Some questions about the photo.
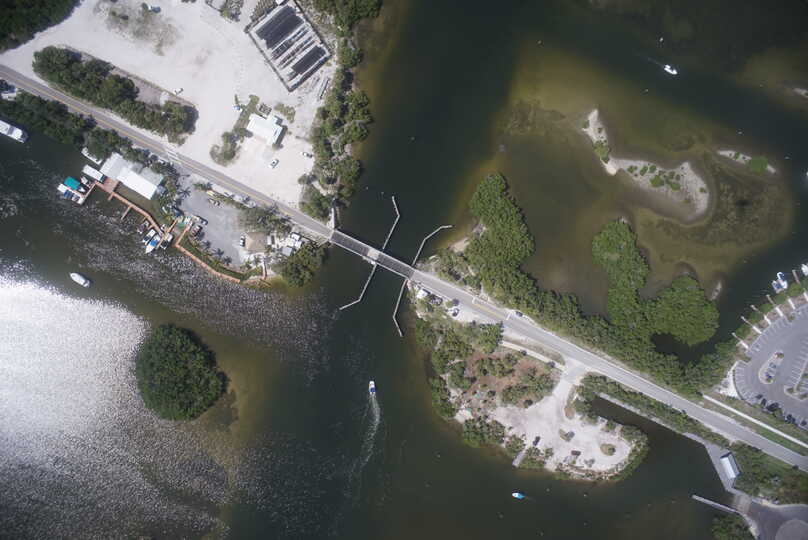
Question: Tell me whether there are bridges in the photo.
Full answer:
Yes, there's a bridge here.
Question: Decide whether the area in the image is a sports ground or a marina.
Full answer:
The area seen from above is a marina.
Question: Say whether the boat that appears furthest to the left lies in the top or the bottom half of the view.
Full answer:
It is in the top half that the boat that appears furthest to the left appears.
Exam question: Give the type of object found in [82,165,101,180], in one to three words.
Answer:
boat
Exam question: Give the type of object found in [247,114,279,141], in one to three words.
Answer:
house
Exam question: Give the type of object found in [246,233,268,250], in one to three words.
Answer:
building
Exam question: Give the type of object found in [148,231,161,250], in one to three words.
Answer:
boat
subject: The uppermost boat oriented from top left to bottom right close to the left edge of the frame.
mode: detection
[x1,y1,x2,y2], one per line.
[0,118,26,141]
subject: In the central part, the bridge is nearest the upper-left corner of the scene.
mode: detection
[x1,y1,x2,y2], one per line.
[329,227,415,282]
